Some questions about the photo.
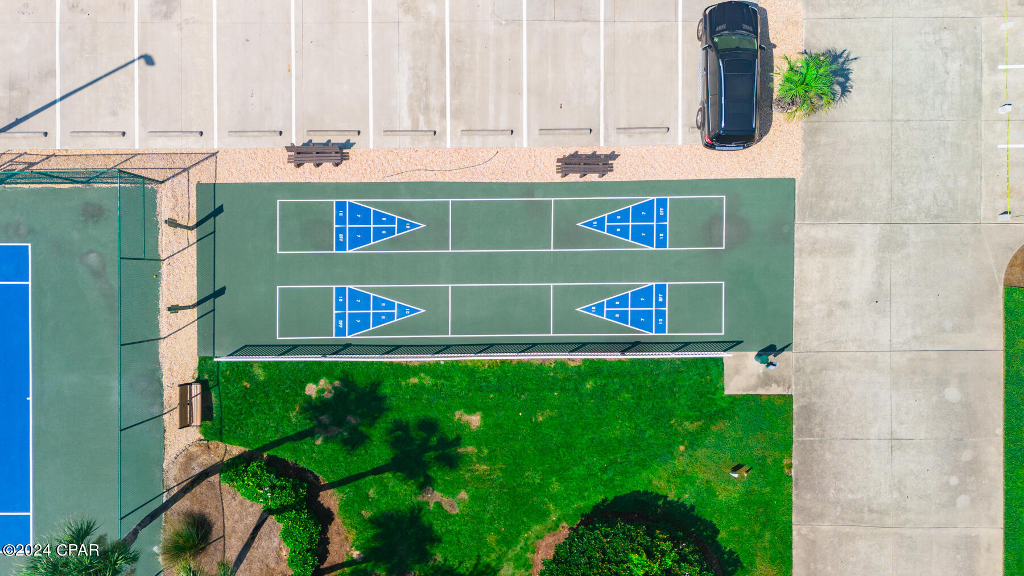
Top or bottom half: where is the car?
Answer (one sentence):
The car is in the top half of the image.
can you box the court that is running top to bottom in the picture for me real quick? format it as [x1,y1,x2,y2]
[0,185,163,576]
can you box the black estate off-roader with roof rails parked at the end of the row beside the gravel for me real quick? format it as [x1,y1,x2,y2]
[696,0,768,151]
